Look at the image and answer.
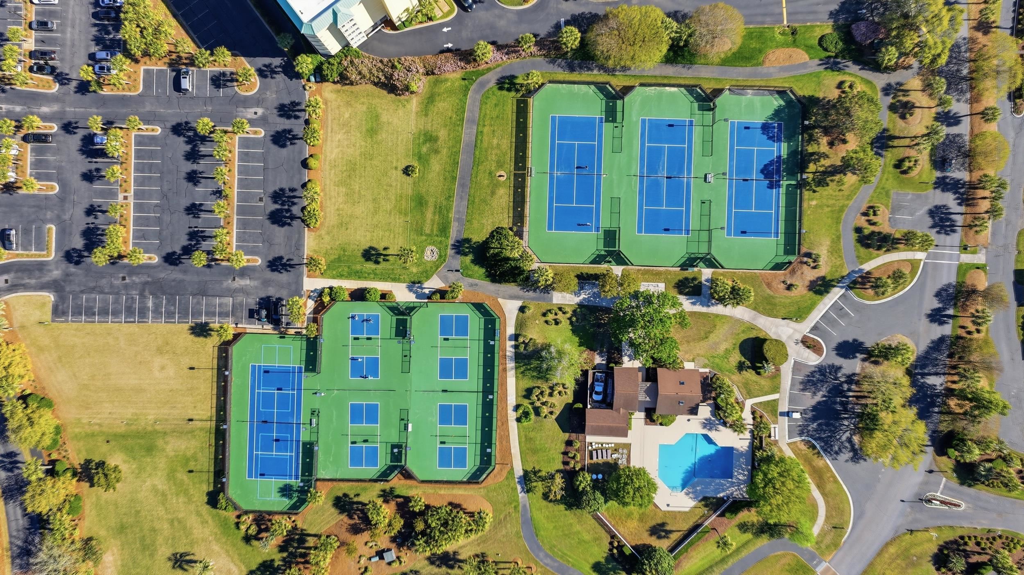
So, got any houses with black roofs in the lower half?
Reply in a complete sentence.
No, in the lower half there is no house with a black roof.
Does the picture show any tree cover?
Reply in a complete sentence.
Yes, tree cover can be seen from above here.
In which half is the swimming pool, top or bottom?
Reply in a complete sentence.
It is in the bottom half that the swimming pool appears.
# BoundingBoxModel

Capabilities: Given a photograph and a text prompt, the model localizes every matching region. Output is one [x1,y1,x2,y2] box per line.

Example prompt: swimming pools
[657,432,735,497]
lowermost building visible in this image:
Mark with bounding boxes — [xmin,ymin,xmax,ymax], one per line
[585,407,629,437]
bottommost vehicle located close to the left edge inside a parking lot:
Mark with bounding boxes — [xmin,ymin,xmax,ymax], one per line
[2,228,16,251]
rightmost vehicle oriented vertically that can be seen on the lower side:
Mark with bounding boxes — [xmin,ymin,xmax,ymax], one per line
[592,372,605,401]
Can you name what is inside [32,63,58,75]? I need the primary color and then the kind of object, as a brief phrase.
black vehicle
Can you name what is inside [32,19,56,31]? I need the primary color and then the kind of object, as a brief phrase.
gray vehicle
